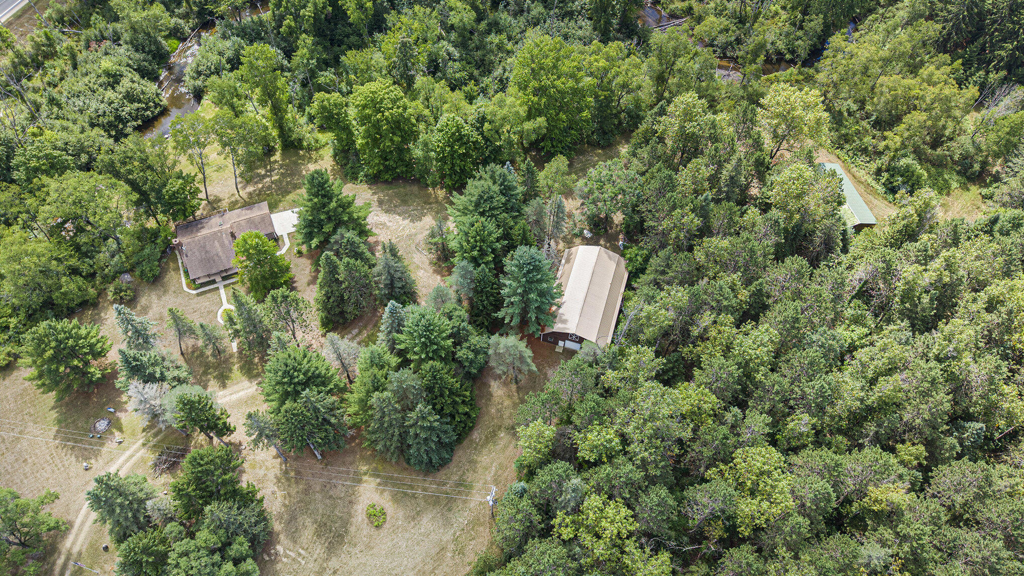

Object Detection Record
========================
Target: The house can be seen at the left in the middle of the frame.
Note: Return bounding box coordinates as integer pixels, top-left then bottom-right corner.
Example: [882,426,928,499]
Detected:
[172,201,278,286]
